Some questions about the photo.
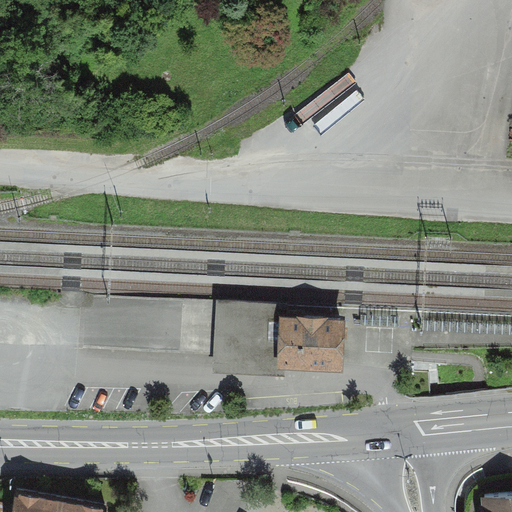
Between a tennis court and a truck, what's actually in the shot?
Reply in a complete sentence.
Looking from above, you can make out a truck.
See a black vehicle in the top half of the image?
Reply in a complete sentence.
No, in the top half of the image there is no black vehicle.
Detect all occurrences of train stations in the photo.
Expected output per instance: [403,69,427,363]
[278,314,348,374]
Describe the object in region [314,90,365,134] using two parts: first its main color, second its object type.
white trailer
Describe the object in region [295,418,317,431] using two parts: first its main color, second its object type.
white vehicle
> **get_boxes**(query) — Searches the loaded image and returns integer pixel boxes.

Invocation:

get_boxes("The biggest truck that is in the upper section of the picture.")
[284,72,358,136]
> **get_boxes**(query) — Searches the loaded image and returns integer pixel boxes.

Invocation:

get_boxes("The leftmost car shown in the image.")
[68,382,86,409]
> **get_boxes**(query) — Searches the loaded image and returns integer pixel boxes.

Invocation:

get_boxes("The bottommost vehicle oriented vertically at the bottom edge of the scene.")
[200,480,214,506]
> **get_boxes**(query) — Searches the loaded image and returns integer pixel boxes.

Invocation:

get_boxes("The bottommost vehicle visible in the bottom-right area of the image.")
[366,440,392,452]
